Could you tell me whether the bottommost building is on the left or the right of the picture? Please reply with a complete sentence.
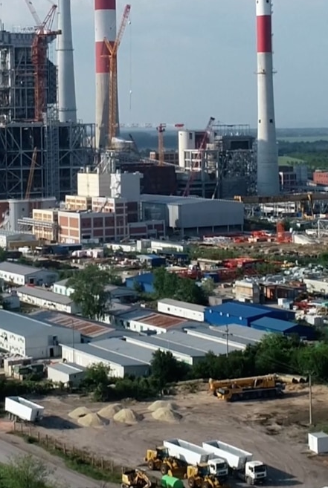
The bottommost building sits on the right side.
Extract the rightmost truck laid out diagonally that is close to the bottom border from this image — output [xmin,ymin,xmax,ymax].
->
[197,439,267,488]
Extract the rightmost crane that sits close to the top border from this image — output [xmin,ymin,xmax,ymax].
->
[102,4,132,170]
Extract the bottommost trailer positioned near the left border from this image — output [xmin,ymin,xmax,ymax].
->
[6,392,42,423]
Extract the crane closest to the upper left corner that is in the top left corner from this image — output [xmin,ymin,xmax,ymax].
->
[0,0,62,121]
